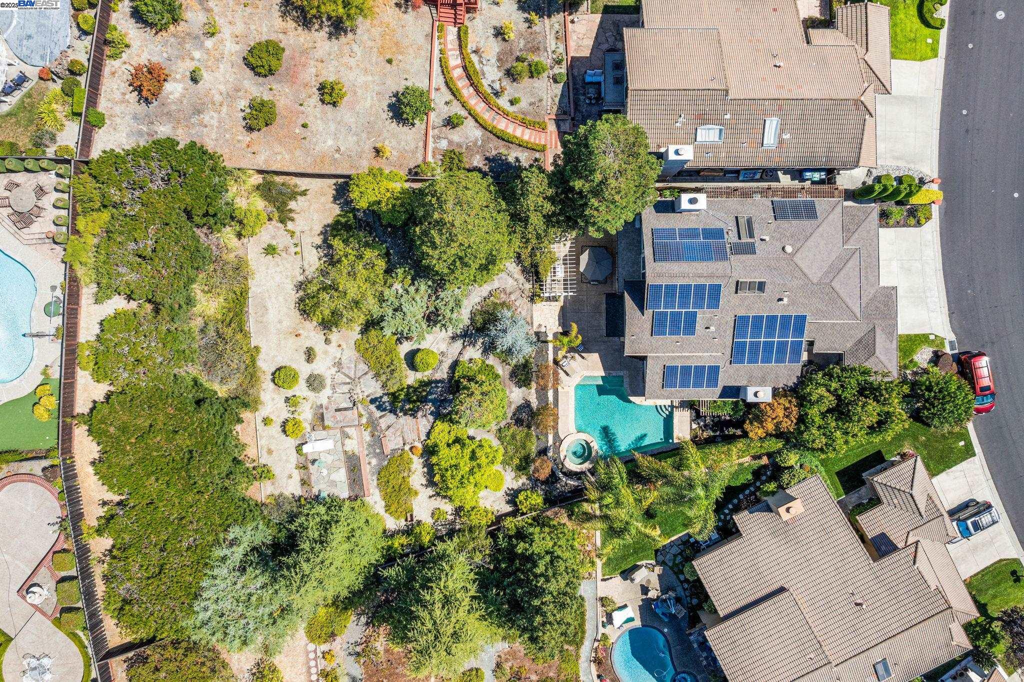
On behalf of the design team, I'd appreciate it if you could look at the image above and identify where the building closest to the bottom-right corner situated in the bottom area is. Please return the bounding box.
[687,454,981,682]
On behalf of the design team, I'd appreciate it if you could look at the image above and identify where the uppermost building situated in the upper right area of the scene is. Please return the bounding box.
[620,0,893,182]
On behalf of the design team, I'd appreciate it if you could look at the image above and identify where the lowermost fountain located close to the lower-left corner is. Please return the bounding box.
[21,588,47,607]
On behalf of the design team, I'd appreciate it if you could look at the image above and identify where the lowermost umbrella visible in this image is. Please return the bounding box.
[612,600,634,625]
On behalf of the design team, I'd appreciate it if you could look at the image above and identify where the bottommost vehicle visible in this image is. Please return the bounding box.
[947,499,1009,547]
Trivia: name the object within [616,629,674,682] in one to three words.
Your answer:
swimming pool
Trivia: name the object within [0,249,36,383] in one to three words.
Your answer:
swimming pool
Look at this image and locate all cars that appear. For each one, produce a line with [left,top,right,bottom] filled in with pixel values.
[947,499,1009,547]
[960,349,1001,416]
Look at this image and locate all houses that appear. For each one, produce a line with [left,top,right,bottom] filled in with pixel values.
[687,454,981,682]
[604,194,900,402]
[620,0,893,182]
